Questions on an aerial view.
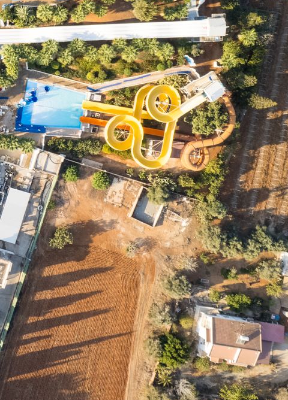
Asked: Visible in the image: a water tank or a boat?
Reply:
water tank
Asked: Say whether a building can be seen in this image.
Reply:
Yes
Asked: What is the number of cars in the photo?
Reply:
0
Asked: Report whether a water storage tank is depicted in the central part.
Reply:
Yes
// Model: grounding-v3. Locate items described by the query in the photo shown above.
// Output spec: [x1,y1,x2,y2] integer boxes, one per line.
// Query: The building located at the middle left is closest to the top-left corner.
[31,150,65,175]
